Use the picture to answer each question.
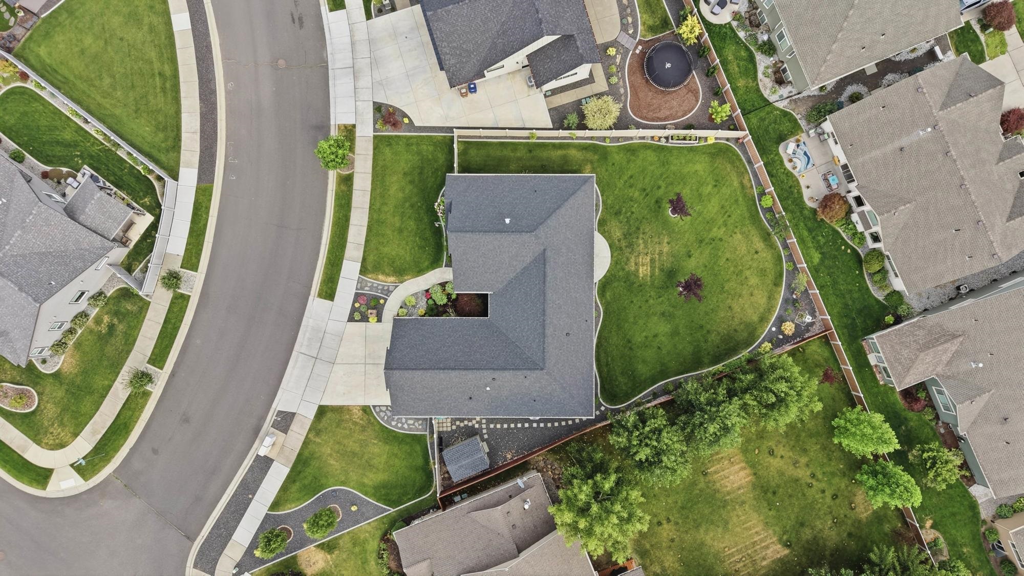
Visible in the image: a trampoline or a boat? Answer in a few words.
trampoline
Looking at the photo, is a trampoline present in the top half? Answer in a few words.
Yes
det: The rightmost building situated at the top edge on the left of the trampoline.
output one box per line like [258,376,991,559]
[419,0,602,95]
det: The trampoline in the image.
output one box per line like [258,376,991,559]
[641,35,696,93]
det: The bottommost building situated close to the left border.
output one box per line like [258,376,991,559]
[0,150,145,369]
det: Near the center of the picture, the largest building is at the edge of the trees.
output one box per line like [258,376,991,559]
[383,172,598,421]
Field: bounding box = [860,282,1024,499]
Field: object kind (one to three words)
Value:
house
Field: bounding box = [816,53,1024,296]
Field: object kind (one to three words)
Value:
house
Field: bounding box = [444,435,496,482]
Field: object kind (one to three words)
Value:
shed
